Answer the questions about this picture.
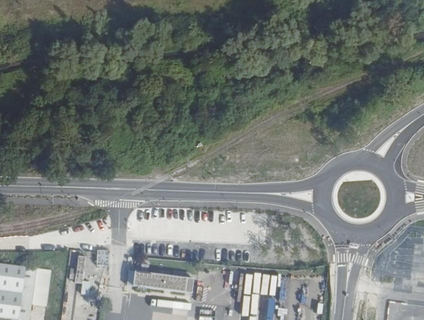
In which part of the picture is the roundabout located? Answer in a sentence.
Look in the right portion of the view to spot the roundabout.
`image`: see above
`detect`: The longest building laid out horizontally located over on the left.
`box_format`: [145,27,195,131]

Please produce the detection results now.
[134,272,193,293]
